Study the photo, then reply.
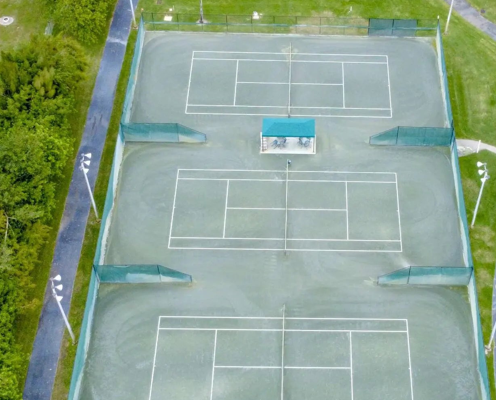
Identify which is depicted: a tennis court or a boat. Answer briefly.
tennis court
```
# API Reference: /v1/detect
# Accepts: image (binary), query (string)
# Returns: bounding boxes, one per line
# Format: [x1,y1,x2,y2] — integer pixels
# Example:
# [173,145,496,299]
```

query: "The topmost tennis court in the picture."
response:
[128,30,447,145]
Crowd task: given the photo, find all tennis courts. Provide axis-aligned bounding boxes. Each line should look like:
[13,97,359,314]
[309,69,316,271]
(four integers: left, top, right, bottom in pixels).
[78,280,482,400]
[128,30,447,145]
[103,140,464,284]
